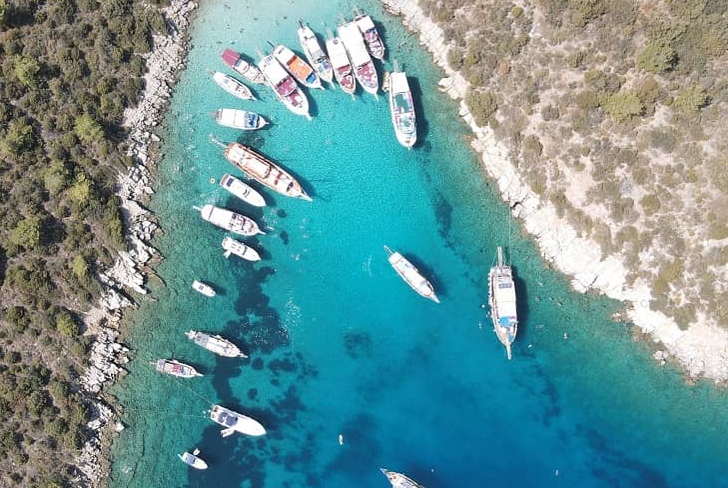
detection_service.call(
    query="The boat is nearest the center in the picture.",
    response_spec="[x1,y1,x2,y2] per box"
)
[384,246,440,303]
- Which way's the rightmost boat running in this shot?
from top to bottom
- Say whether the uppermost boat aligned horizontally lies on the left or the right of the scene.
left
